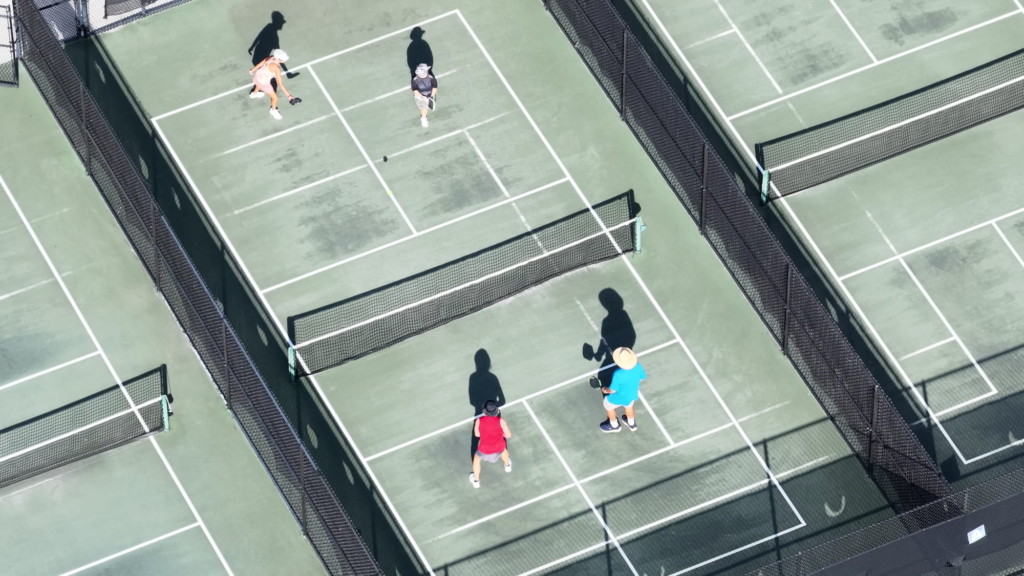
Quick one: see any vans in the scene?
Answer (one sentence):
No, I can't see a single van in this photo.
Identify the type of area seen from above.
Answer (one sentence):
This image shows a sports ground.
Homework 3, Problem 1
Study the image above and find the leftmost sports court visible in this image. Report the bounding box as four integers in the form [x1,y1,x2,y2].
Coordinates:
[0,62,326,576]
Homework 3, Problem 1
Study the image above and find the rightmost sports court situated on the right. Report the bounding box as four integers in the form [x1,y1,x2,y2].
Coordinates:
[544,0,1024,576]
